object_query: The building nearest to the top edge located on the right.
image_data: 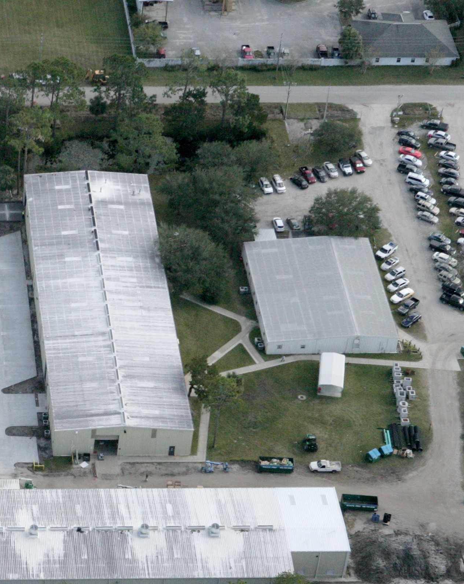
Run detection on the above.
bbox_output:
[354,4,457,66]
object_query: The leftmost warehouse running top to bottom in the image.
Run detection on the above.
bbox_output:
[22,170,196,457]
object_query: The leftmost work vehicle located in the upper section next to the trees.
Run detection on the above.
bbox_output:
[82,67,115,86]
